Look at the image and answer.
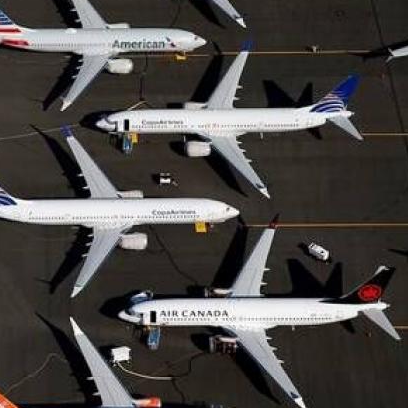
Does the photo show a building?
No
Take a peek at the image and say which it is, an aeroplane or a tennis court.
aeroplane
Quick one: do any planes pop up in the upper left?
Yes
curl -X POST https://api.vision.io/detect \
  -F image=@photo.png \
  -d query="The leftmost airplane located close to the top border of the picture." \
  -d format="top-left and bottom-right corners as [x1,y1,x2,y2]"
[0,0,208,108]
